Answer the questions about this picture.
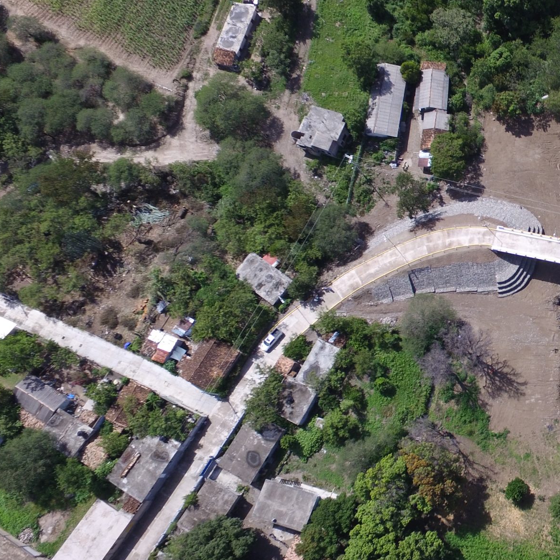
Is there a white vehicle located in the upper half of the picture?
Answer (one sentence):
No, in the upper half of the picture there is no white vehicle.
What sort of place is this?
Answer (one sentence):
This image shows a residential area.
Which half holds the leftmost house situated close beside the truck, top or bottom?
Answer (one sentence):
The leftmost house situated close beside the truck sits in the bottom half of the picture.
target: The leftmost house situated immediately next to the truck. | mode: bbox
[179,340,245,390]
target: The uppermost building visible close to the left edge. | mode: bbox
[0,315,29,344]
